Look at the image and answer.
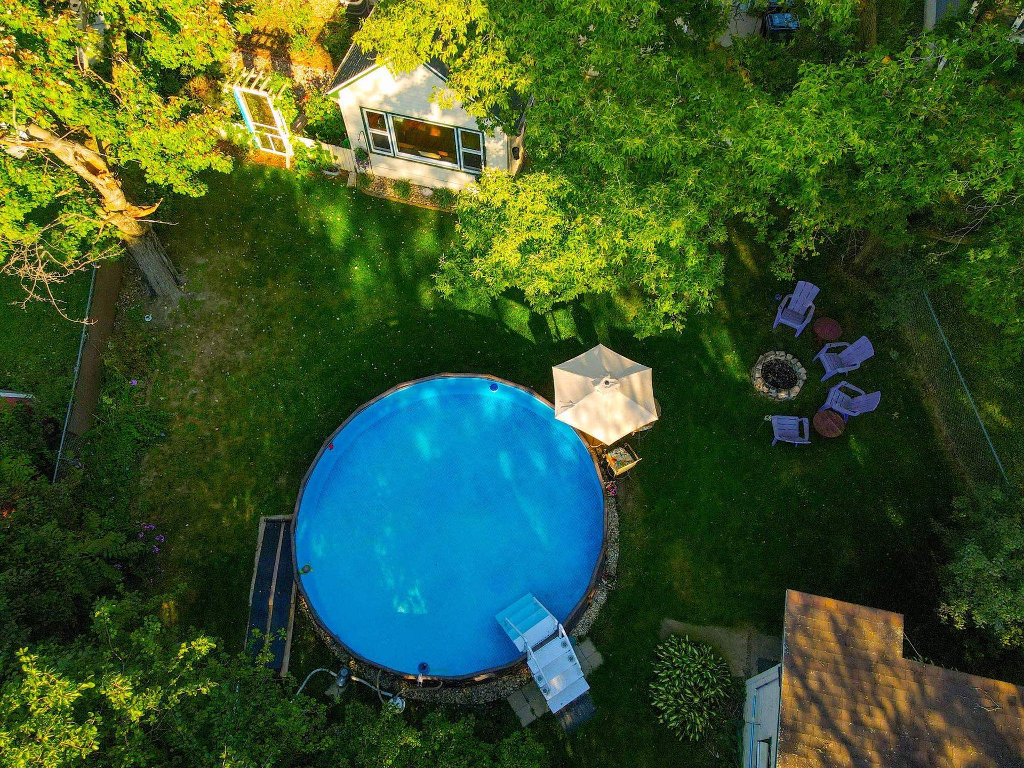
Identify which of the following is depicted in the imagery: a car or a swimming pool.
swimming pool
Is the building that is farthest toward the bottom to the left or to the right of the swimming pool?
on its right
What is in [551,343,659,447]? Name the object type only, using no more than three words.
umbrella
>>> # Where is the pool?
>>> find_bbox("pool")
[291,374,607,686]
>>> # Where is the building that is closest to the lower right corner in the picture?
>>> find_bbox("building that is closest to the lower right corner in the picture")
[741,587,1024,768]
